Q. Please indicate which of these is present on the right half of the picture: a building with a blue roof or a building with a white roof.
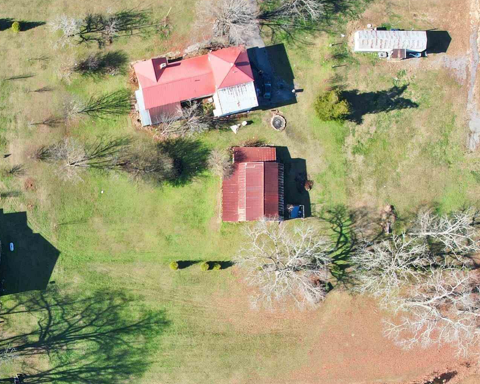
building with a white roof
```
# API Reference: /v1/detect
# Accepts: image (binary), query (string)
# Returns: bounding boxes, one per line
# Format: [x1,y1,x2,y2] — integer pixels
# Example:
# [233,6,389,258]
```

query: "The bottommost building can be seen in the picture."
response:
[222,162,284,222]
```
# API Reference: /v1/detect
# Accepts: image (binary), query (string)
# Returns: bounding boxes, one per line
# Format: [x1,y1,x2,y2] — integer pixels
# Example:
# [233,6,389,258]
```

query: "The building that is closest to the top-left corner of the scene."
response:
[133,45,258,126]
